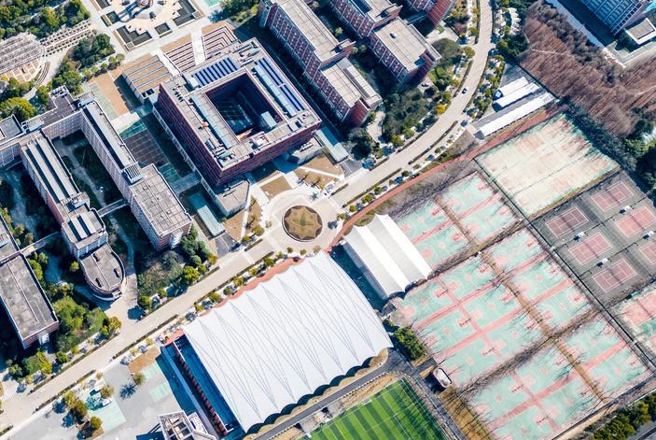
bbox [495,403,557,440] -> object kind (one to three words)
basketball court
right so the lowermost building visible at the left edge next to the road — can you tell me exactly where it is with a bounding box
[0,88,191,348]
